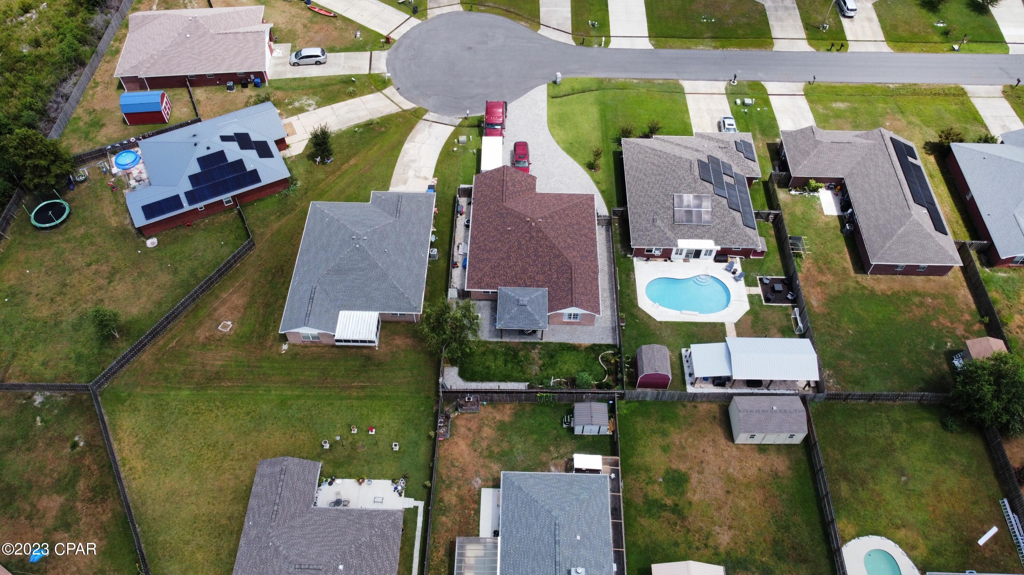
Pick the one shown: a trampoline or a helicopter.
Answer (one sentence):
The one in the frame is a trampoline.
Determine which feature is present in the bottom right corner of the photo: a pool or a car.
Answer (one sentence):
The feature located in the bottom right corner of the photo is a pool.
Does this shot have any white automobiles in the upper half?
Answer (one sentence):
Yes, a white automobile shows up in the upper half.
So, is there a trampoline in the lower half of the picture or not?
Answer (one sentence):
No, no trampoline is visible in the lower half of the picture.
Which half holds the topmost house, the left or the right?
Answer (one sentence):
The topmost house is on the left side of the image.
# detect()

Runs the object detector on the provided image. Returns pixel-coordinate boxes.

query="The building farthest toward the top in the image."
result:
[113,5,274,92]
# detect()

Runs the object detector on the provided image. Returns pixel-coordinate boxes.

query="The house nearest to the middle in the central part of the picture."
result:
[464,164,602,325]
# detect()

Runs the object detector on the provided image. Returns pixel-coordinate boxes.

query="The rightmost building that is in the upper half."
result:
[945,128,1024,273]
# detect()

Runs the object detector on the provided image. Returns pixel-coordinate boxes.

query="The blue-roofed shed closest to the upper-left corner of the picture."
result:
[119,94,171,125]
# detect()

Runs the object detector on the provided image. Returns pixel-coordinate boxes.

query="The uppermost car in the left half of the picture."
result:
[289,47,328,66]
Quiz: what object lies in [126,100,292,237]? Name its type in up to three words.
house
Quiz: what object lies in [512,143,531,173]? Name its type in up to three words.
car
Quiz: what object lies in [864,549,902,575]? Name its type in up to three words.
swimming pool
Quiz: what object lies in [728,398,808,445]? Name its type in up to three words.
shed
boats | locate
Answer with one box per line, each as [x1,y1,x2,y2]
[307,2,337,16]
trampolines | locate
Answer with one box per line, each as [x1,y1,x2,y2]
[22,192,73,234]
